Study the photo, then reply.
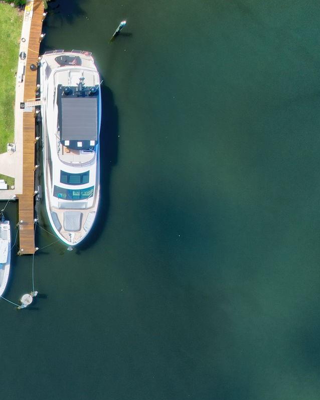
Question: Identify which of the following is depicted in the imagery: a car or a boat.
boat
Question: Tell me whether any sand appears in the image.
No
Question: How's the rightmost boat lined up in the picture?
vertically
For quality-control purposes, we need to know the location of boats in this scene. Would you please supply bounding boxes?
[0,209,10,296]
[39,48,101,249]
